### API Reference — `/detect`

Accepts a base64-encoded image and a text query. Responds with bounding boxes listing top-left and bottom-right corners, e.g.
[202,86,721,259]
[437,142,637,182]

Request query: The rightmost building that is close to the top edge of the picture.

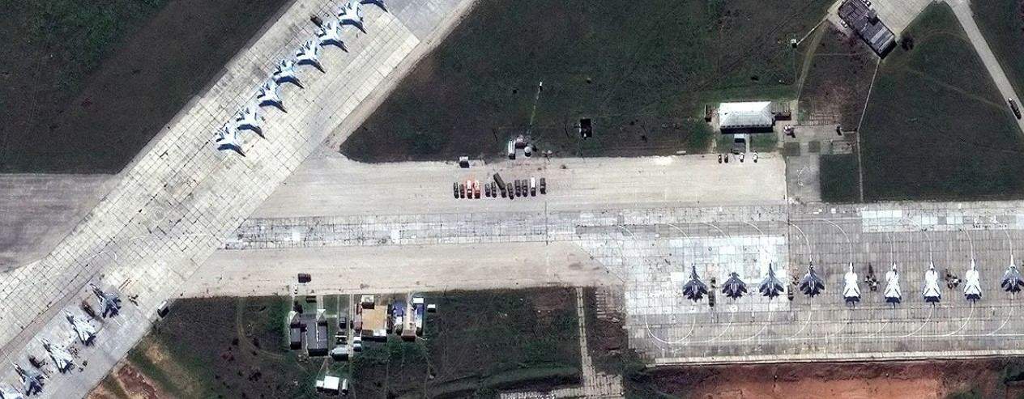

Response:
[836,0,898,52]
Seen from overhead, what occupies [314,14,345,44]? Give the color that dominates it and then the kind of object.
white airplane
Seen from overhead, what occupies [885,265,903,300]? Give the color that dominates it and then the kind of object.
white airplane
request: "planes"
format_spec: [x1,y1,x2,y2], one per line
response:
[1000,256,1024,293]
[230,100,263,130]
[964,260,983,297]
[314,14,345,44]
[923,263,941,300]
[290,34,323,65]
[90,284,120,318]
[681,264,707,300]
[885,265,903,300]
[65,312,95,346]
[211,118,243,149]
[12,363,42,396]
[721,261,747,298]
[758,261,784,299]
[843,263,861,299]
[799,258,825,294]
[270,50,301,81]
[253,74,285,106]
[38,337,68,371]
[331,0,364,25]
